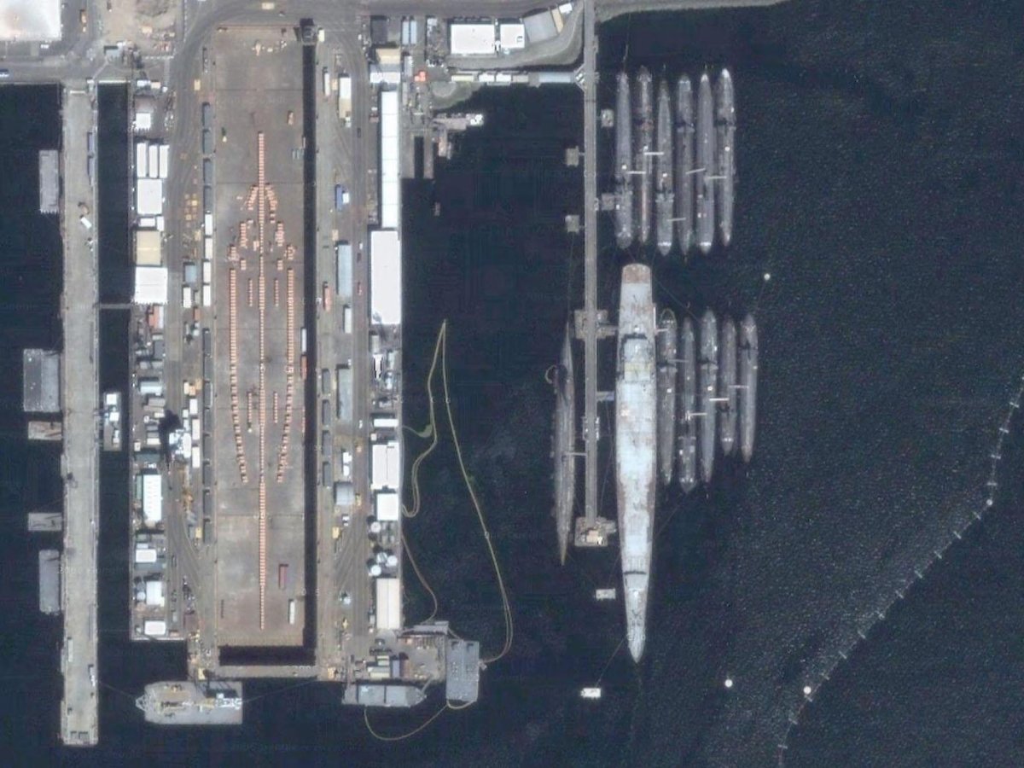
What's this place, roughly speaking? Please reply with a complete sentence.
What you see here is a port.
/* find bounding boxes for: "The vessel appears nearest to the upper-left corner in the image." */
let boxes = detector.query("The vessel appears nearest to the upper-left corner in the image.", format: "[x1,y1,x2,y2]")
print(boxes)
[40,150,59,214]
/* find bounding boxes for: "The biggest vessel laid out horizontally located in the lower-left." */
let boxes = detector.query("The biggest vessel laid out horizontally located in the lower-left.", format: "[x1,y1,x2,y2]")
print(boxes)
[136,682,243,724]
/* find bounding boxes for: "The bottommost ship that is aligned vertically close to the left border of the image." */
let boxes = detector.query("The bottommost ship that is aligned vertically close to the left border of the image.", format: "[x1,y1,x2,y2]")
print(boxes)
[39,550,60,614]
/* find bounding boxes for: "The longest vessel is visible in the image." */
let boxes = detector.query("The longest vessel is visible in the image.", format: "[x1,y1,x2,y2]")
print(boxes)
[617,263,656,663]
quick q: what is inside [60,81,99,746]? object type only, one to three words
pier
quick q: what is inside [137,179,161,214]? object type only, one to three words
building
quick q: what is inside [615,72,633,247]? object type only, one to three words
ship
